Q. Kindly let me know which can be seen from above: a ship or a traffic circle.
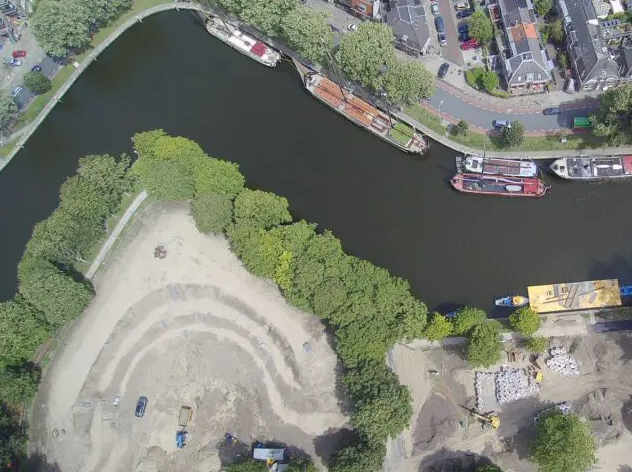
ship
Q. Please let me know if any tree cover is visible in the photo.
Yes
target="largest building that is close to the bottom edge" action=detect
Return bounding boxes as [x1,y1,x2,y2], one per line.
[249,449,284,463]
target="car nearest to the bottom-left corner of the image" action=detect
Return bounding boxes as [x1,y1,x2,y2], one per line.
[133,398,146,417]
